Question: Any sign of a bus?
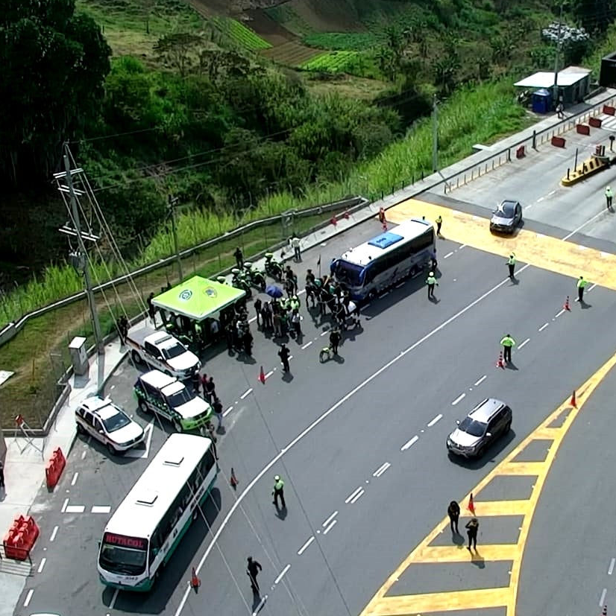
Yes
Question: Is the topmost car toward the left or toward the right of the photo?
right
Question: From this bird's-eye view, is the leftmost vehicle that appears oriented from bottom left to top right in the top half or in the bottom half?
bottom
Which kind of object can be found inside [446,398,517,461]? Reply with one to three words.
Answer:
car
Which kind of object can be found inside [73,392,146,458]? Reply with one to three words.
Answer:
car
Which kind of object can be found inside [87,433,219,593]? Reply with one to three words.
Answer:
vehicle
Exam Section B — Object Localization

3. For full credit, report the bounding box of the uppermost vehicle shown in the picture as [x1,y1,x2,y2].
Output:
[491,200,521,235]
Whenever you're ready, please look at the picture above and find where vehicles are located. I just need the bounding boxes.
[120,330,201,383]
[264,254,282,283]
[87,433,219,593]
[172,318,197,347]
[73,392,146,458]
[232,269,250,298]
[247,263,265,292]
[446,398,517,461]
[129,369,208,436]
[334,214,446,305]
[491,200,521,235]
